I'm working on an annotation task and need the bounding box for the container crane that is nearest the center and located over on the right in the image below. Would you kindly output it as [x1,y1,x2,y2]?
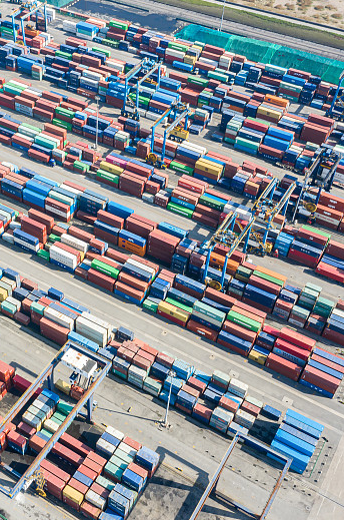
[193,212,253,297]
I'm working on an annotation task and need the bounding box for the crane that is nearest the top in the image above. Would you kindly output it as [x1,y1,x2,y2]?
[10,0,47,52]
